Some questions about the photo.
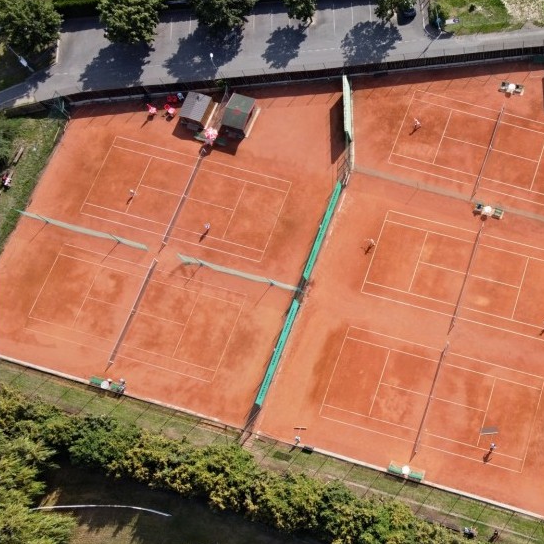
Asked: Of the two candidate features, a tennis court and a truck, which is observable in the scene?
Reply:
tennis court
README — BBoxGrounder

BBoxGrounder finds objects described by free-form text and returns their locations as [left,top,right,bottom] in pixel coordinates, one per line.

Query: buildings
[222,93,259,136]
[179,92,216,128]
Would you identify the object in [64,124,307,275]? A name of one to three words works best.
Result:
tennis court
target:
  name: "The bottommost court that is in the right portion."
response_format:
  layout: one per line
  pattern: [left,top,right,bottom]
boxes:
[302,312,544,489]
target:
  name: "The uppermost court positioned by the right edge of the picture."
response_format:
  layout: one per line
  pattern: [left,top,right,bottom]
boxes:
[372,77,544,216]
